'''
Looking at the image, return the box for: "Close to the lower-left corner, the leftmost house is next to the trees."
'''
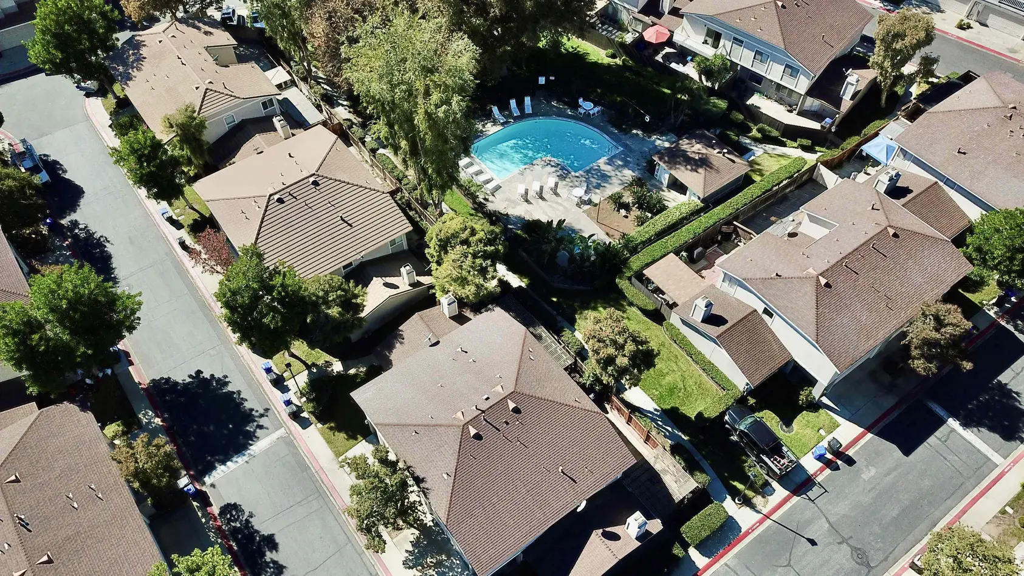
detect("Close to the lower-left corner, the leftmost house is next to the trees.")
[0,390,171,576]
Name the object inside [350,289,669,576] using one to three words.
house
